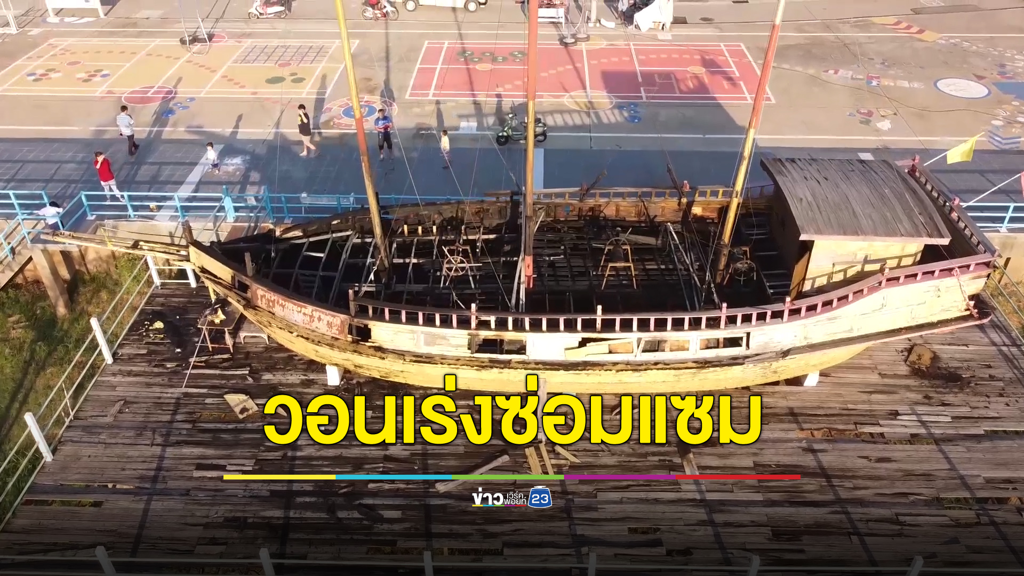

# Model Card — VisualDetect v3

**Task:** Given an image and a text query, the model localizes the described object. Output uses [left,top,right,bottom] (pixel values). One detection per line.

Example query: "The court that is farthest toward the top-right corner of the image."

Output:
[406,35,775,112]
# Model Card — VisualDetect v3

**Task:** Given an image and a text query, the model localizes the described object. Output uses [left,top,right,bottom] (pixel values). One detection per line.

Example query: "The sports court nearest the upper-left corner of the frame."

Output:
[0,32,357,107]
